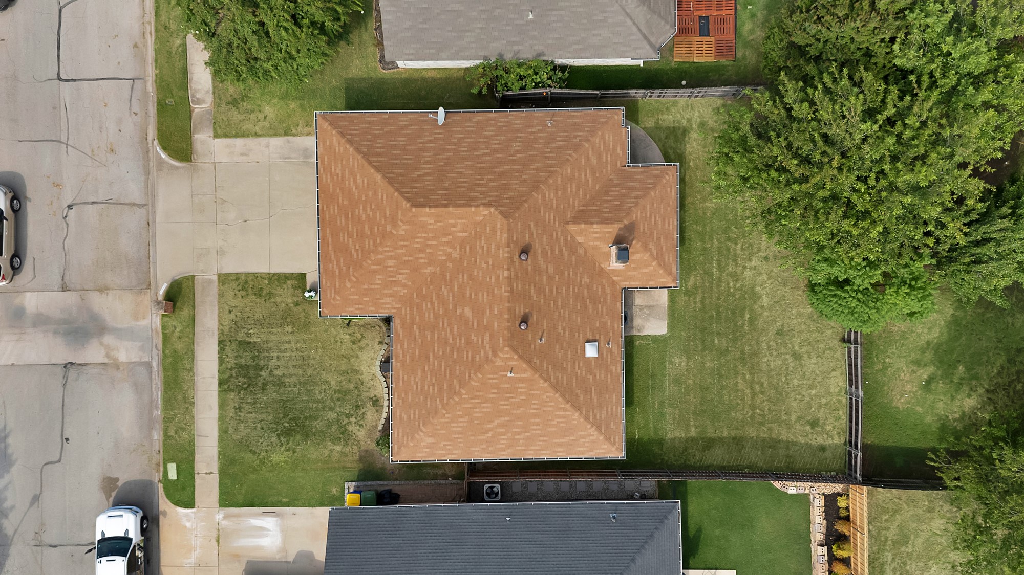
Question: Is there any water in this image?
No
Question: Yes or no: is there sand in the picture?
No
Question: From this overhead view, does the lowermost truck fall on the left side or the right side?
left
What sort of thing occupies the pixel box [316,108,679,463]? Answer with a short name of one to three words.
house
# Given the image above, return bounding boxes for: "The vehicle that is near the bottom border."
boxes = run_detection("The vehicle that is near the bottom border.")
[89,502,154,575]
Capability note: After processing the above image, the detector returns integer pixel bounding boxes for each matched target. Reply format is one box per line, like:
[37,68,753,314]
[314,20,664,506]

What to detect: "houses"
[316,108,679,463]
[382,0,678,75]
[324,497,682,575]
